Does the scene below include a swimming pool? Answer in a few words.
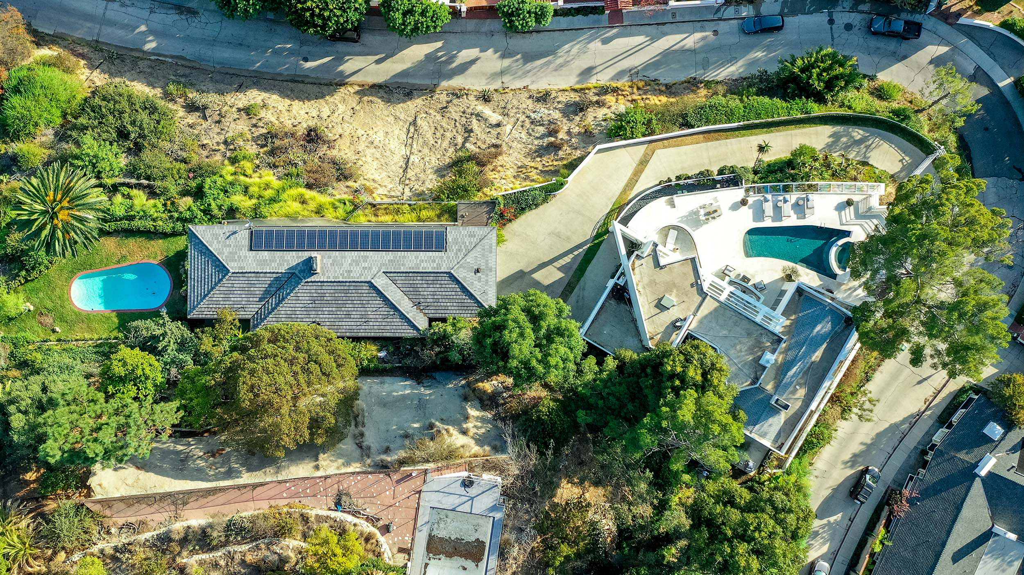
Yes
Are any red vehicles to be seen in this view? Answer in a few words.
No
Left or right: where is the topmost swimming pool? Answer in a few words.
right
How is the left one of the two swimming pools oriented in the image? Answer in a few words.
from side to side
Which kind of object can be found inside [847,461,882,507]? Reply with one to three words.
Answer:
car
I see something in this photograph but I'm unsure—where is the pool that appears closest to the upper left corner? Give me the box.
[68,260,173,313]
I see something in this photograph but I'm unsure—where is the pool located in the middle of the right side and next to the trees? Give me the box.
[743,221,866,279]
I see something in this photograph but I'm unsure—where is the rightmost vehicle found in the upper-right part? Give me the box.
[866,14,924,42]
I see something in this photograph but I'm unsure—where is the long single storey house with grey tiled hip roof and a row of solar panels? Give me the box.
[187,222,498,338]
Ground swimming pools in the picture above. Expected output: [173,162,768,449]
[743,221,866,279]
[68,260,173,313]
